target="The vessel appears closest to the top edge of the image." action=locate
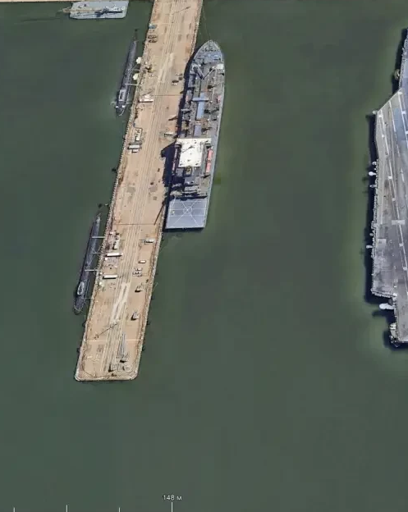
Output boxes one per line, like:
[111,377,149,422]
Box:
[63,0,128,21]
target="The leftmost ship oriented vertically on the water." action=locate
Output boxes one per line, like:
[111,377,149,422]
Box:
[74,206,101,312]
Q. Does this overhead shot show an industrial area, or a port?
port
